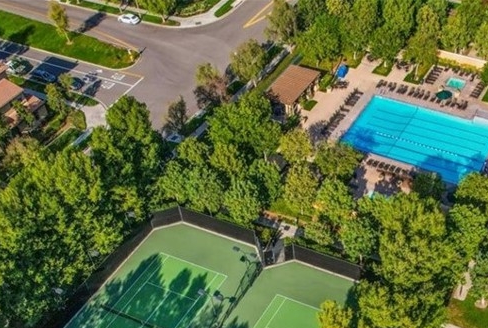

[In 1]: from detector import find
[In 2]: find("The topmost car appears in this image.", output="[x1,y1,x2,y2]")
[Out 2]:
[117,11,140,23]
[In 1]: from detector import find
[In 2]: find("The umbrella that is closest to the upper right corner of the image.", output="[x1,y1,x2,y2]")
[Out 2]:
[433,90,454,107]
